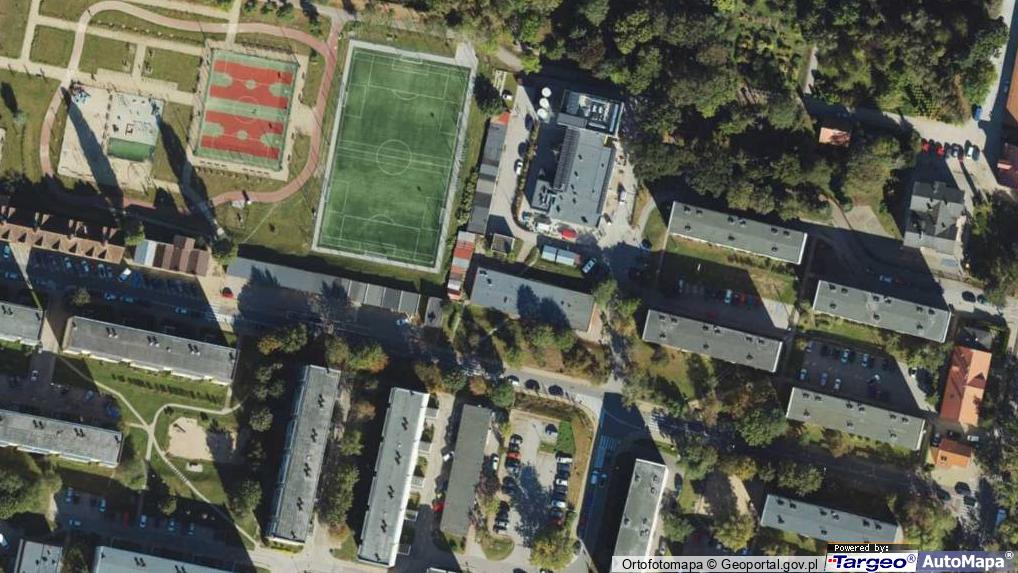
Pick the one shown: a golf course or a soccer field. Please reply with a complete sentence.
Of the two, only a soccer field appears.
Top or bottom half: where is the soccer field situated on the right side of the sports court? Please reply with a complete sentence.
It is in the top half that the soccer field situated on the right side of the sports court appears.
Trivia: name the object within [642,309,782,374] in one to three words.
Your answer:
building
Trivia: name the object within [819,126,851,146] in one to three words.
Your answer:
building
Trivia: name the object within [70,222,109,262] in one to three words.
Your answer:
house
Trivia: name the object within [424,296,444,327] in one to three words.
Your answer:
shed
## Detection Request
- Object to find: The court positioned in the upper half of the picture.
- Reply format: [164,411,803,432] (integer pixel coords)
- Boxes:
[188,40,313,181]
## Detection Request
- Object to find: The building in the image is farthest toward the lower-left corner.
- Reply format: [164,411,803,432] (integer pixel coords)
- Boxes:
[16,540,68,573]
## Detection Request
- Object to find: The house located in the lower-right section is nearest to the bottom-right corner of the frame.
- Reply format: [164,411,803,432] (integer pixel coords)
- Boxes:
[936,439,974,472]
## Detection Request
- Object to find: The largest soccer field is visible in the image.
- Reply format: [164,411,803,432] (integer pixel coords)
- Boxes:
[312,40,474,272]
